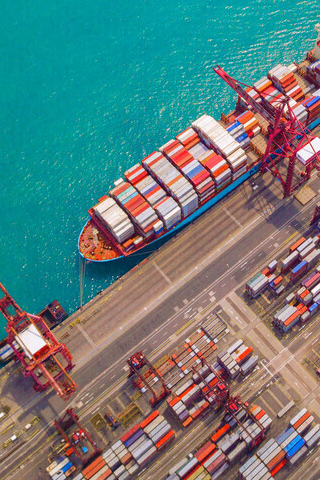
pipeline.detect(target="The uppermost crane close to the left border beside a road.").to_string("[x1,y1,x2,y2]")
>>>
[0,279,79,397]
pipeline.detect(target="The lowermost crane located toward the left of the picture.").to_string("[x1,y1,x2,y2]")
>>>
[52,408,104,468]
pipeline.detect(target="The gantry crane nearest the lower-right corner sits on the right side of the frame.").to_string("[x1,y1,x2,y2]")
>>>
[222,390,270,449]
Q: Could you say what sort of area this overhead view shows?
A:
port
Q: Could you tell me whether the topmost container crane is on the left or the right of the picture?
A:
right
